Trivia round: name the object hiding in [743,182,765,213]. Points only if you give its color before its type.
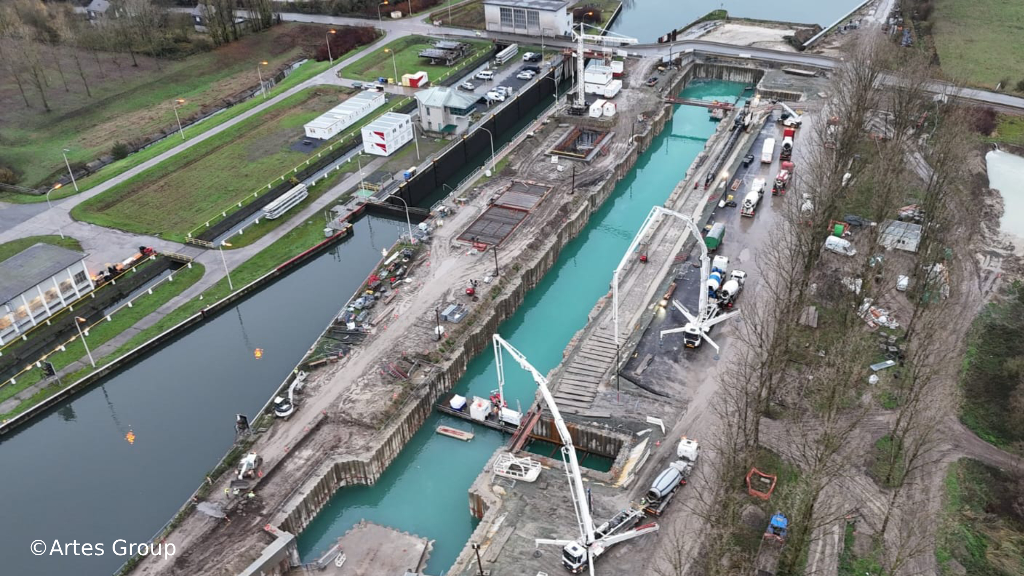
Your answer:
white truck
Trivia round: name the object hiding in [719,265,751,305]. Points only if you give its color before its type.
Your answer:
white truck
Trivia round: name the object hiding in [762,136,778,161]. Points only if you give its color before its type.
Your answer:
white vehicle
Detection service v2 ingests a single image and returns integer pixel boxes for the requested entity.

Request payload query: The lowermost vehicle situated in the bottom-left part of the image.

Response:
[225,452,262,495]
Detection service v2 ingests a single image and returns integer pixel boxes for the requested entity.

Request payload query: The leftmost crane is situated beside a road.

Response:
[562,22,639,116]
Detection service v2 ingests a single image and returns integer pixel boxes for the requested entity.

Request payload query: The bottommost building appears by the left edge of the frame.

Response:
[0,241,98,346]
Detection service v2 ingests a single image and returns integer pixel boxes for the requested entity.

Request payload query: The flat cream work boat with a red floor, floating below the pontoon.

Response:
[436,423,474,443]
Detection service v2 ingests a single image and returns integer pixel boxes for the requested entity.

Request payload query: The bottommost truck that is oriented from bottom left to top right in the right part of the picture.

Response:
[644,438,700,512]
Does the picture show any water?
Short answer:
Yes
